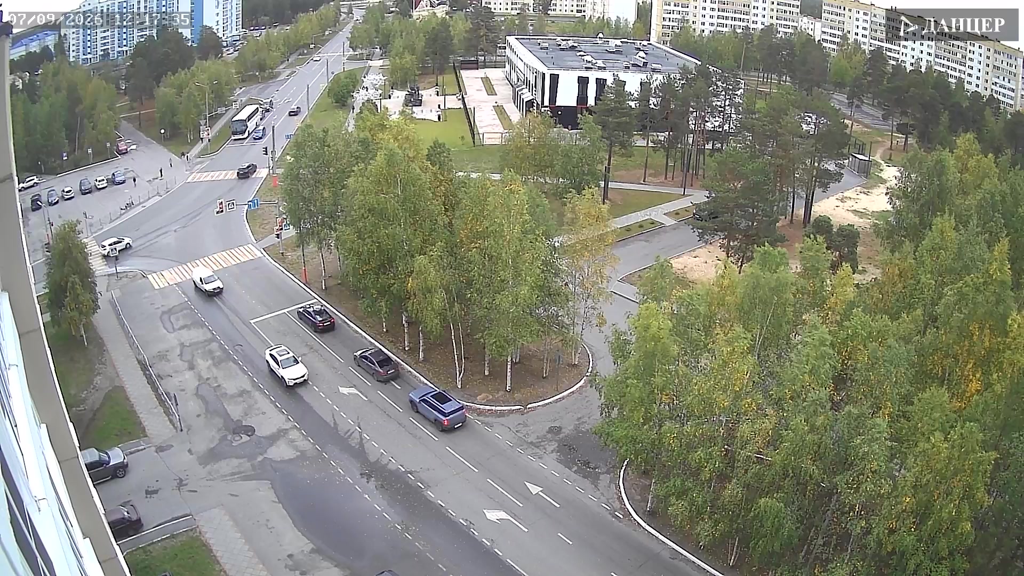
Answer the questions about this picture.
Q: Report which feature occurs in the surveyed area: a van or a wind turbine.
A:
van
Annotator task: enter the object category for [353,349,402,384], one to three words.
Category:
car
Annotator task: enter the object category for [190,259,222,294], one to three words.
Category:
van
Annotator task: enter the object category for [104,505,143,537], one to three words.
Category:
car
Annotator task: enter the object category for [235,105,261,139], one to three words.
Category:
bus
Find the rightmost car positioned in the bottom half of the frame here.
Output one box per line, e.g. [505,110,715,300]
[409,388,470,434]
